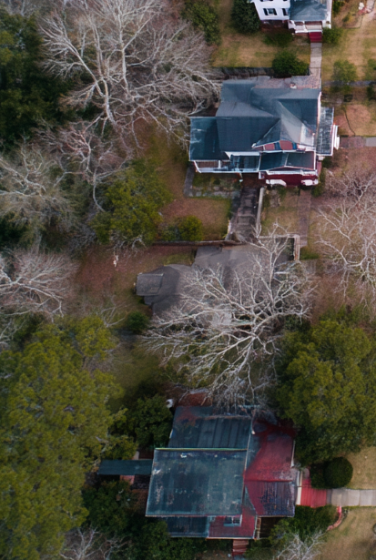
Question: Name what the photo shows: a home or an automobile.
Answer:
home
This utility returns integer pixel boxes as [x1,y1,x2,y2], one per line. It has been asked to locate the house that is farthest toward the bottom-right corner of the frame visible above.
[96,393,328,560]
